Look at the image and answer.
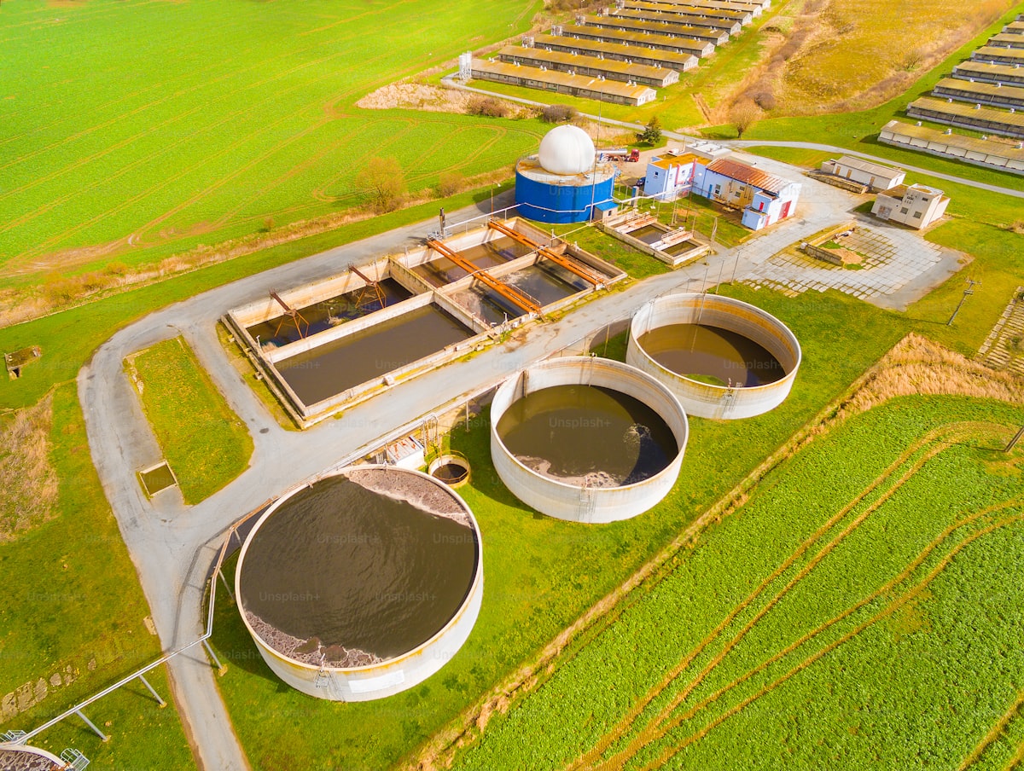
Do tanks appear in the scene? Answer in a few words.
Yes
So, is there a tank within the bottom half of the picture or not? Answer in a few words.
Yes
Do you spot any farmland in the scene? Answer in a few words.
Yes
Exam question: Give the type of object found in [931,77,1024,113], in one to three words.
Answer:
barn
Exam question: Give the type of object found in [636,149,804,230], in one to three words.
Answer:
building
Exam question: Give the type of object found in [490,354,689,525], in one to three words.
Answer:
storage tank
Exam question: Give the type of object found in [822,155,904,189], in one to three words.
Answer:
shed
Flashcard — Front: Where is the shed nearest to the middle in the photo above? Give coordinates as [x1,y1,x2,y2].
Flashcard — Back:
[391,431,426,467]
